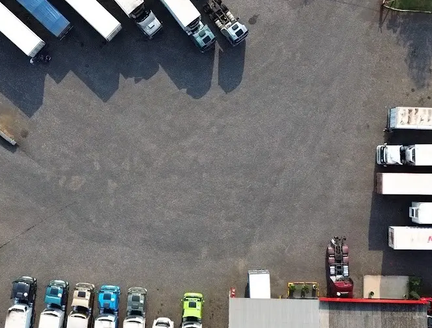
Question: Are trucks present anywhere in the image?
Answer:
Yes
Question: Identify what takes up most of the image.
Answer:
paved ground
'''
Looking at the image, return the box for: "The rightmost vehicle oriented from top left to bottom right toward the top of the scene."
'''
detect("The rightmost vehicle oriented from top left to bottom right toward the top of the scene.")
[204,0,250,48]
